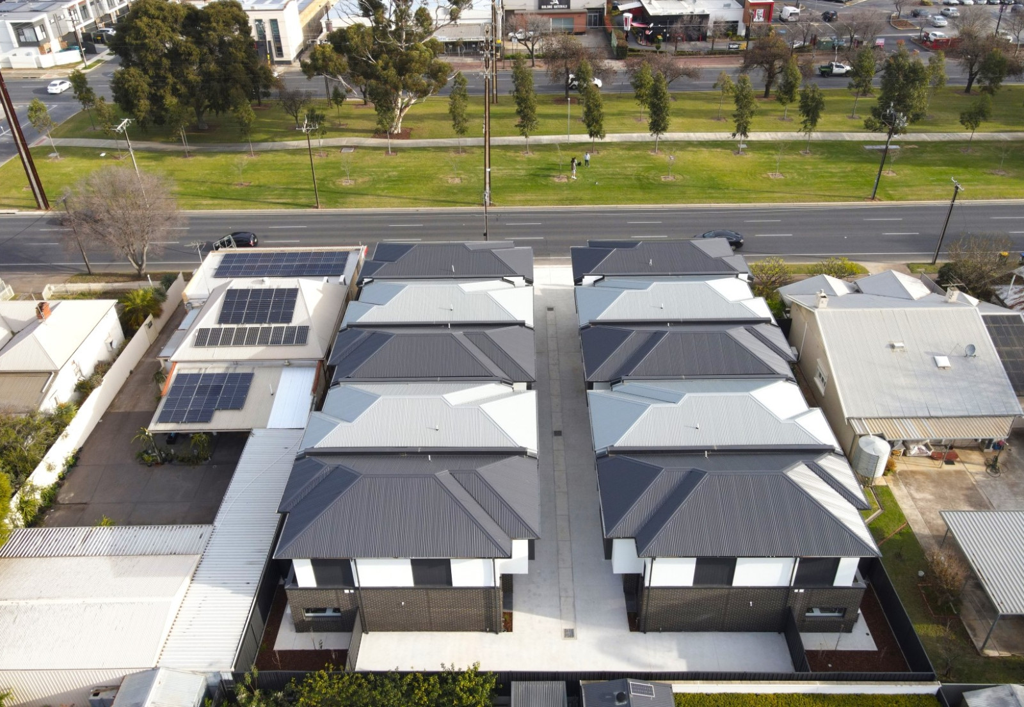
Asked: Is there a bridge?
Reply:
No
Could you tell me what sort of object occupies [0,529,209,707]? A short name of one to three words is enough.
shed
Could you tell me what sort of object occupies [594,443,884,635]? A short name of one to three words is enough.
house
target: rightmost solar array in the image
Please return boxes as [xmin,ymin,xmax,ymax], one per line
[983,322,1024,404]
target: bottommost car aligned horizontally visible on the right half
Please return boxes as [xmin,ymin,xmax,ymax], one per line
[691,230,744,249]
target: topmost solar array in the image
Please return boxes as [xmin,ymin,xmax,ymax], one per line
[212,249,353,276]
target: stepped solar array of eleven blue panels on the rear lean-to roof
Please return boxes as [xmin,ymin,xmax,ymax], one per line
[156,371,258,422]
